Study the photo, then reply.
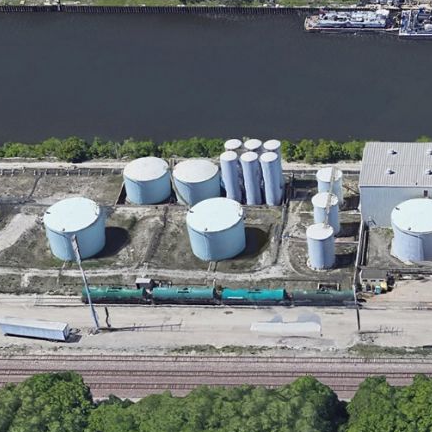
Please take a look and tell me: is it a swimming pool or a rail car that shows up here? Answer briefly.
rail car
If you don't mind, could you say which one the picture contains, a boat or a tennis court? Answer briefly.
boat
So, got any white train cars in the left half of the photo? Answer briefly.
No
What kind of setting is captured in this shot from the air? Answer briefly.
industrial area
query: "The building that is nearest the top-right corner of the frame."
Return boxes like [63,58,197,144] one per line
[358,142,432,230]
